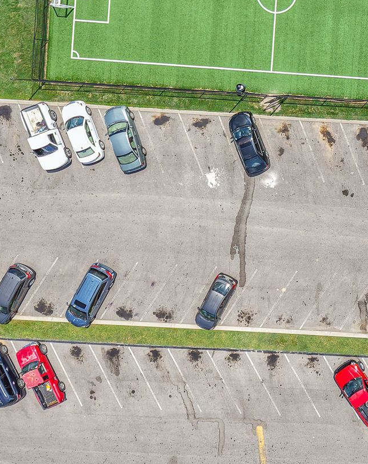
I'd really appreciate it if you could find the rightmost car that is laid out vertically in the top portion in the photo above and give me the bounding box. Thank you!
[231,110,270,178]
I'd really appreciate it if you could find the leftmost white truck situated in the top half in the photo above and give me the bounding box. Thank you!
[20,101,71,173]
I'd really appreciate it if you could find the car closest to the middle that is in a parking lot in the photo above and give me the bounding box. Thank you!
[195,271,239,330]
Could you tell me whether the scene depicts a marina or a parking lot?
parking lot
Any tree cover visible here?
No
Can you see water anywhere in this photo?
No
